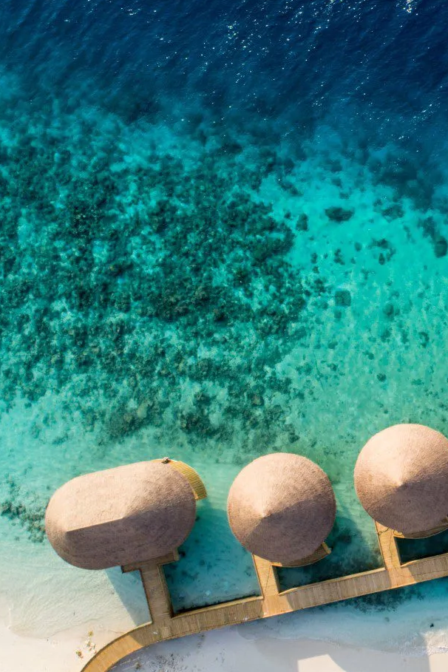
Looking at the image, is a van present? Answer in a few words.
No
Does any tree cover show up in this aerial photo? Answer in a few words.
No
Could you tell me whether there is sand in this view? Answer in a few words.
Yes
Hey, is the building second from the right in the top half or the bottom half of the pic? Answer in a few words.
bottom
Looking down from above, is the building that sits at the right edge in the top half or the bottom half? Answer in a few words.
bottom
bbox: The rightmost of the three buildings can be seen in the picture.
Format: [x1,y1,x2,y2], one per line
[354,423,448,572]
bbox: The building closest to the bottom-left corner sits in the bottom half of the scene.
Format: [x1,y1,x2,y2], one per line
[45,457,209,624]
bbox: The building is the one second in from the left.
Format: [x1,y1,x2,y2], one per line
[227,453,337,599]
